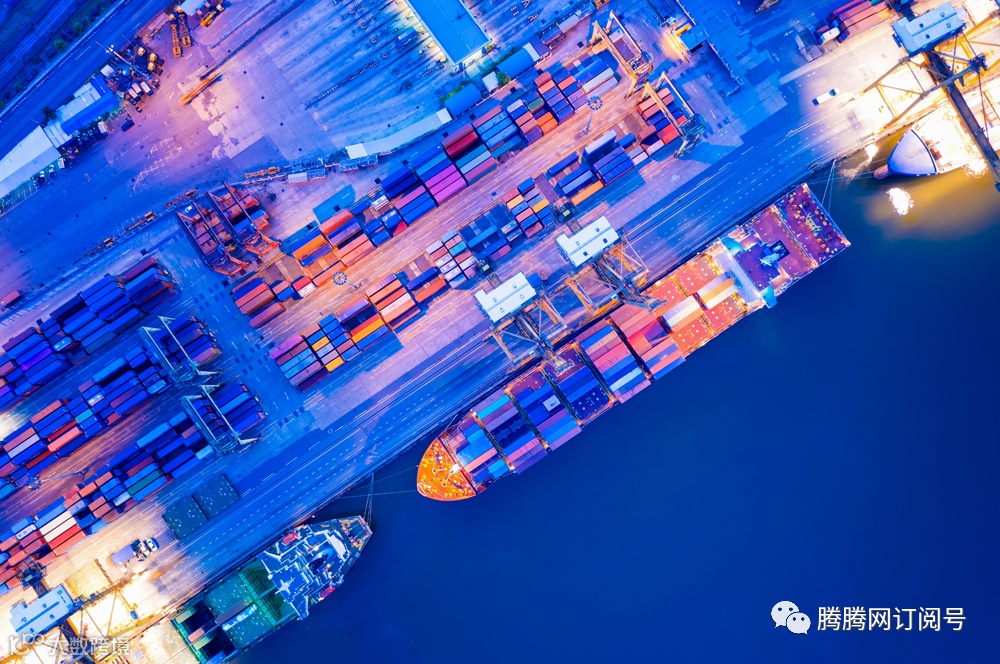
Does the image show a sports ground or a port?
port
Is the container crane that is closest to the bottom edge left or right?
left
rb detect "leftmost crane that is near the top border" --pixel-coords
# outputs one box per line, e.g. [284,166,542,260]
[585,4,662,100]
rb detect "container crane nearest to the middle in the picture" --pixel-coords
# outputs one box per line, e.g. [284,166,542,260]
[466,251,571,375]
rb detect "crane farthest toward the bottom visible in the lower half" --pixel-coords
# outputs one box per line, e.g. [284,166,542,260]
[13,554,171,664]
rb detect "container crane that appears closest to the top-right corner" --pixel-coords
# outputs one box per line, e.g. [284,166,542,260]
[846,0,1000,193]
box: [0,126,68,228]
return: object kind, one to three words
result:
building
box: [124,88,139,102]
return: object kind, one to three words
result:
vehicle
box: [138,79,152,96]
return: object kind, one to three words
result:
vehicle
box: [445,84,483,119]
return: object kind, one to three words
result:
shed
